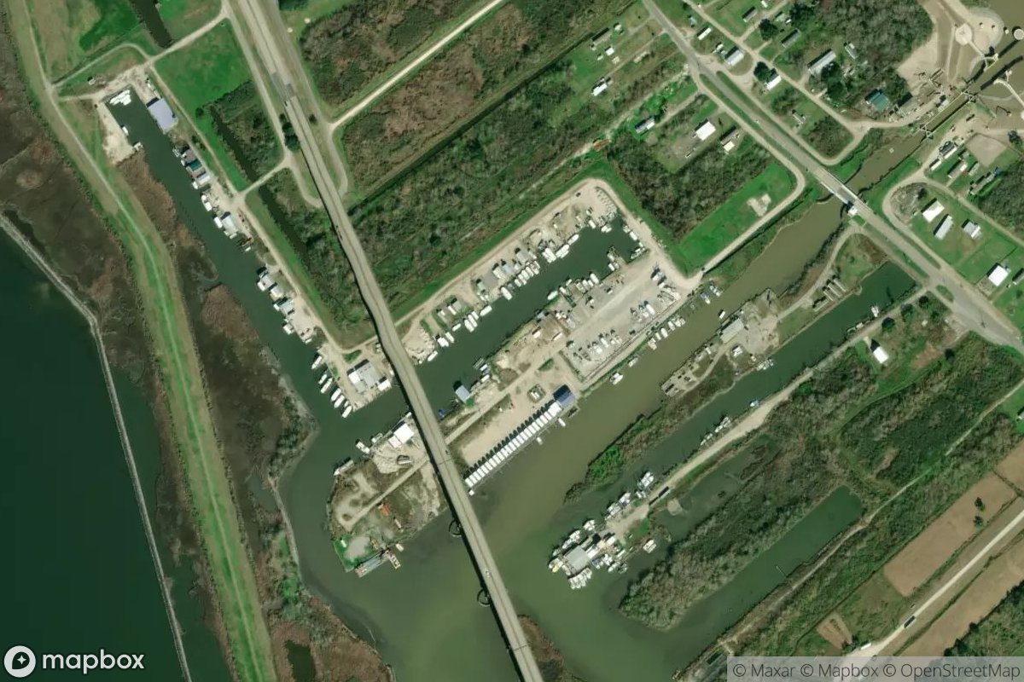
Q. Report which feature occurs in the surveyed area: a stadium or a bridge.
bridge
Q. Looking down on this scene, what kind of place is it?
port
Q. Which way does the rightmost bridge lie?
on a diagonal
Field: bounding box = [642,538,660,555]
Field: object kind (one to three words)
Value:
boat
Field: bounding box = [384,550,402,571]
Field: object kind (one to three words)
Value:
ship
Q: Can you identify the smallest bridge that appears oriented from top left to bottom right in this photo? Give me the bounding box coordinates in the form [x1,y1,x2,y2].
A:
[817,168,869,208]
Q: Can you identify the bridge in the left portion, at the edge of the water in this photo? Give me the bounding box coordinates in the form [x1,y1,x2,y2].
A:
[274,77,543,682]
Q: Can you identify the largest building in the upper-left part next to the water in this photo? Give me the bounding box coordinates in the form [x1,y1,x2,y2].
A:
[149,100,176,129]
